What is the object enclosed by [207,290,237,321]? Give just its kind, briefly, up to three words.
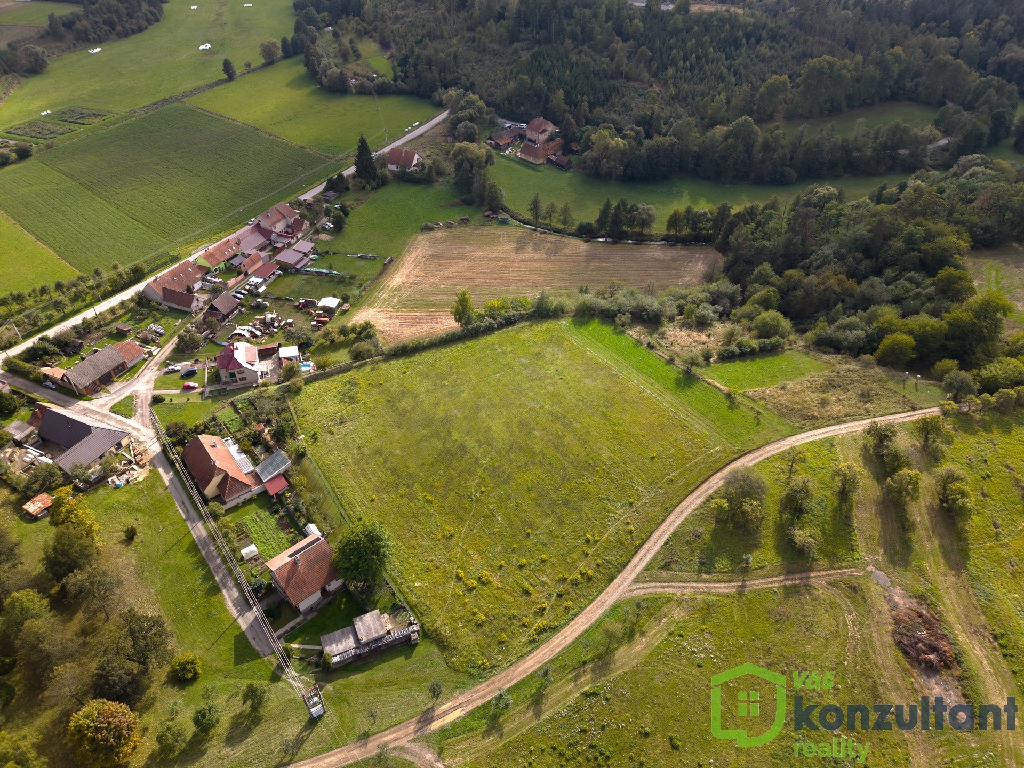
barn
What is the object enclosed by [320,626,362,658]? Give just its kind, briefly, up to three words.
shed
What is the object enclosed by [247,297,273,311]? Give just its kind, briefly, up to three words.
work vehicle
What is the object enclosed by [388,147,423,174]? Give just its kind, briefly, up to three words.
house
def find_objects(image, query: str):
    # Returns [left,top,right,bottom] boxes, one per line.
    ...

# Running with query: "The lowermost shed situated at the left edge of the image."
[22,492,54,520]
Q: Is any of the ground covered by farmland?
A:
Yes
